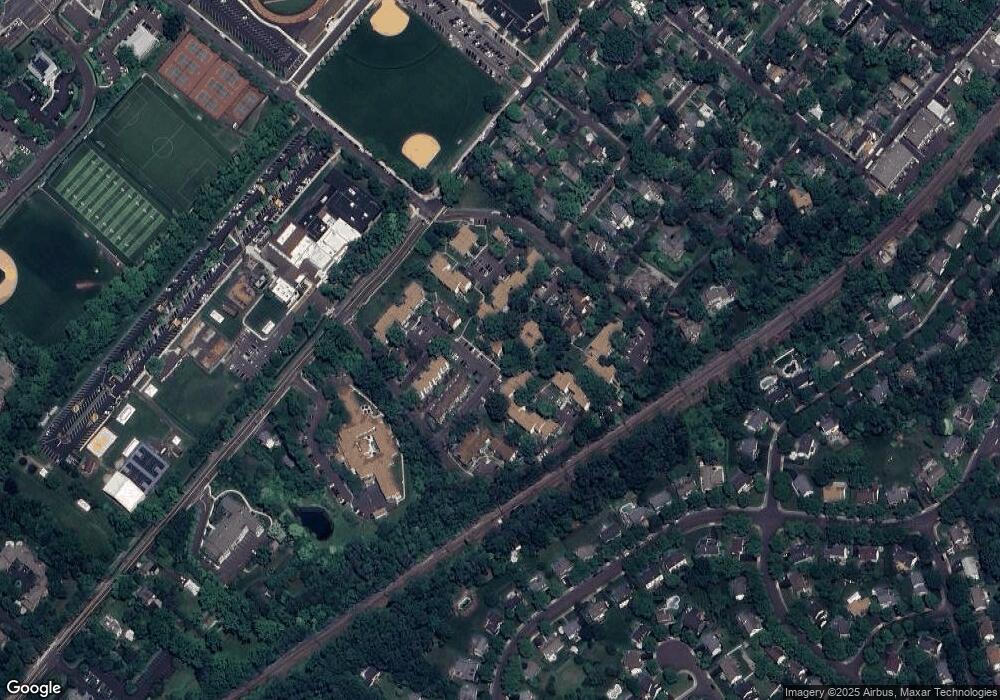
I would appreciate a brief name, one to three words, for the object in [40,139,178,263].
sports field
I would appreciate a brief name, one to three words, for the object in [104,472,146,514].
building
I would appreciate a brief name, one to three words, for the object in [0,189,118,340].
baseball field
